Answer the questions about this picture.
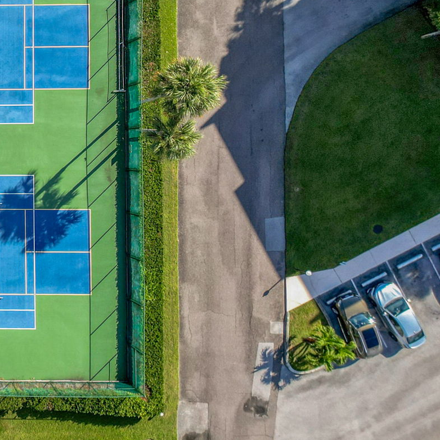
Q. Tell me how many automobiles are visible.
2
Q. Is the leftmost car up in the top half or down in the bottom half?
bottom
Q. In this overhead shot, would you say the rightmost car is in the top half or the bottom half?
bottom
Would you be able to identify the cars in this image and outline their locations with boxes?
[370,280,425,350]
[332,291,387,360]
